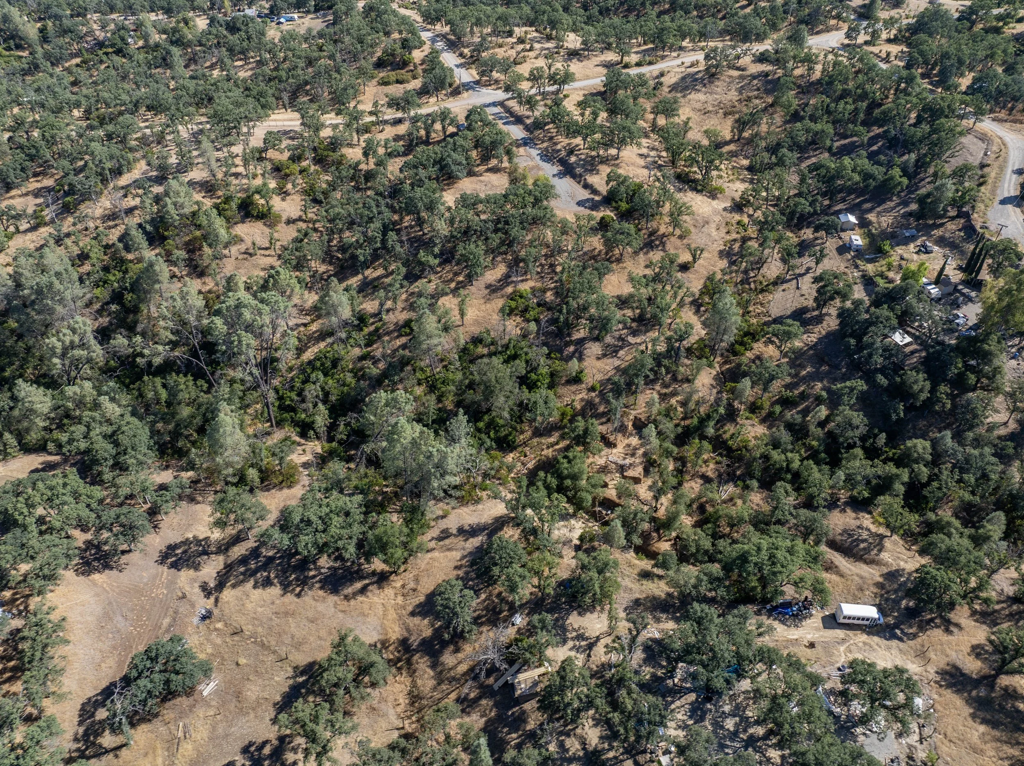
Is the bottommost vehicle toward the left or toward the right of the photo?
right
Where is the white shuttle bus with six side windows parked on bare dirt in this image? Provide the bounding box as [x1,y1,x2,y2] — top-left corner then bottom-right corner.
[831,601,886,624]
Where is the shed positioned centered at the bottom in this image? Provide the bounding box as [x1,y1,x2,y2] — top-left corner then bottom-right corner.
[515,675,540,704]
